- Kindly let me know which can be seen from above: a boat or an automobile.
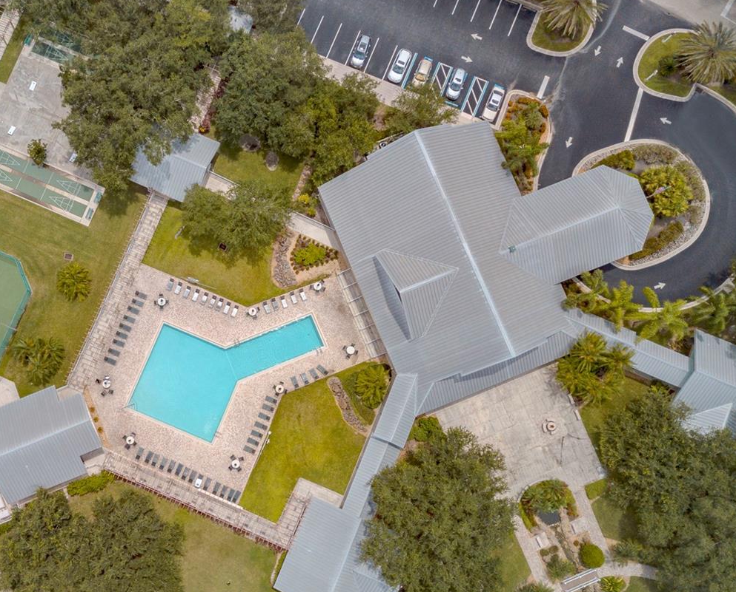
automobile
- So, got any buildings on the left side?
Yes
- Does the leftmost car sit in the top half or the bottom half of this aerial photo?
top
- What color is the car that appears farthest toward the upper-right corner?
white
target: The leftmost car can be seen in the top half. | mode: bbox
[351,35,371,68]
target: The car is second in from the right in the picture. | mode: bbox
[444,67,466,101]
